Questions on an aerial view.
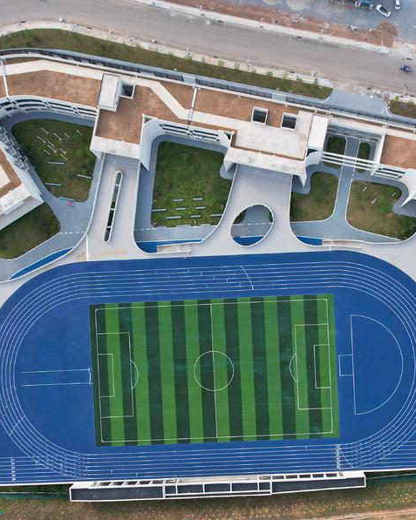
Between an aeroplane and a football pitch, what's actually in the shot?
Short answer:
football pitch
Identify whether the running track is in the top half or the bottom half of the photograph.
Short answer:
bottom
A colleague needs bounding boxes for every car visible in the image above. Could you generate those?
[395,0,401,9]
[376,3,391,16]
